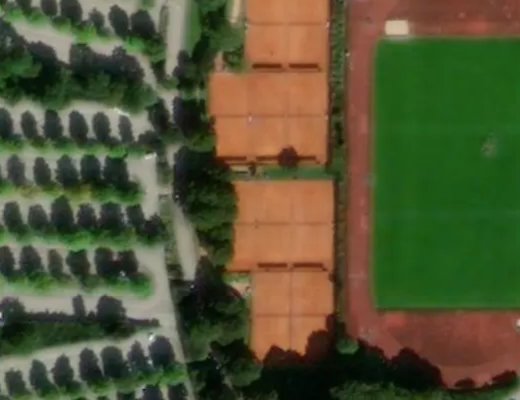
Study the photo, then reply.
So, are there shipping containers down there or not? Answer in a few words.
No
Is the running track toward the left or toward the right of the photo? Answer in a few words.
right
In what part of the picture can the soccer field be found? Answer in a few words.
right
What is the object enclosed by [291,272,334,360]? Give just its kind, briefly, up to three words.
tennis court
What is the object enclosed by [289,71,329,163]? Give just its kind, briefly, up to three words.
tennis court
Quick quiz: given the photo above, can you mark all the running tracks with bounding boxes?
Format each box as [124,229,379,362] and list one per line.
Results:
[348,0,520,392]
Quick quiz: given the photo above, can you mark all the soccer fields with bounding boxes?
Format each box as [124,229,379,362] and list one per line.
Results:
[371,36,520,312]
